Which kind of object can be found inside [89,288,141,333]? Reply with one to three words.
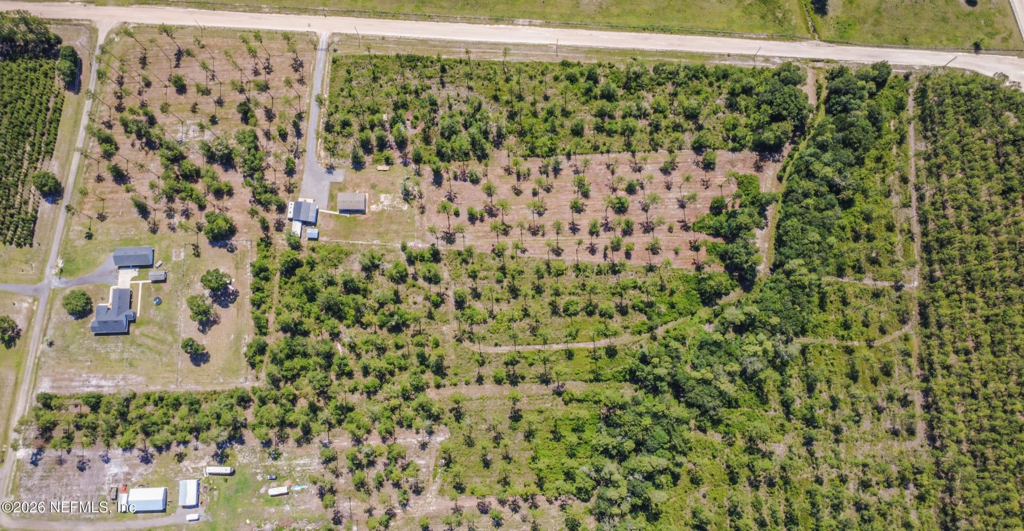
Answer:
house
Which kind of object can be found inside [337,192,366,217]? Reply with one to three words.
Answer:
house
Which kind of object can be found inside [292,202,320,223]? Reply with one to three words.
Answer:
building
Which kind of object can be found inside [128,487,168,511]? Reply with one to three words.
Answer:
barn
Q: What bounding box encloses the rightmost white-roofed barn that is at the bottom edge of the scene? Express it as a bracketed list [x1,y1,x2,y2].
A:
[179,479,201,505]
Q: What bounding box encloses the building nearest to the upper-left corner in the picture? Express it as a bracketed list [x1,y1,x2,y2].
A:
[113,246,156,267]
